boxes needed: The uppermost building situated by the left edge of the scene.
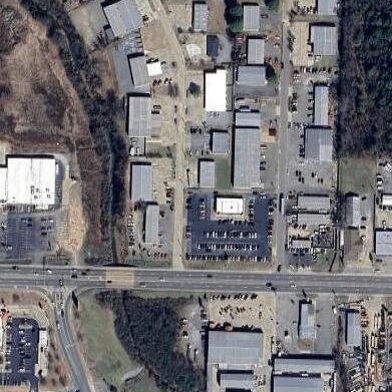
[0,158,55,204]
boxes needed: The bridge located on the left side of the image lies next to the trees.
[106,268,135,291]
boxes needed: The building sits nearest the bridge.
[145,204,159,244]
